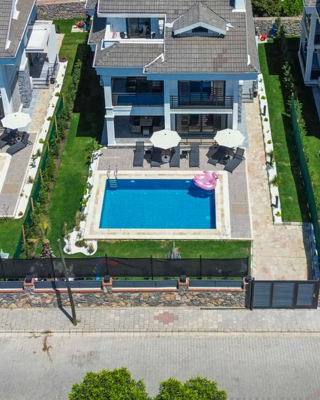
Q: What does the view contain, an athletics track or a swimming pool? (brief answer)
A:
swimming pool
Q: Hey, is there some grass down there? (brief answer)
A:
Yes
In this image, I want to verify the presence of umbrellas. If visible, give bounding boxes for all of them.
[0,111,32,144]
[212,127,246,161]
[148,129,181,163]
